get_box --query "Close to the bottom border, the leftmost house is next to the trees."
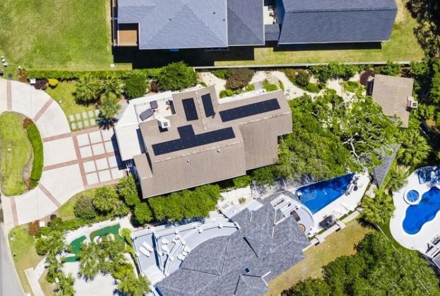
[125,189,319,296]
